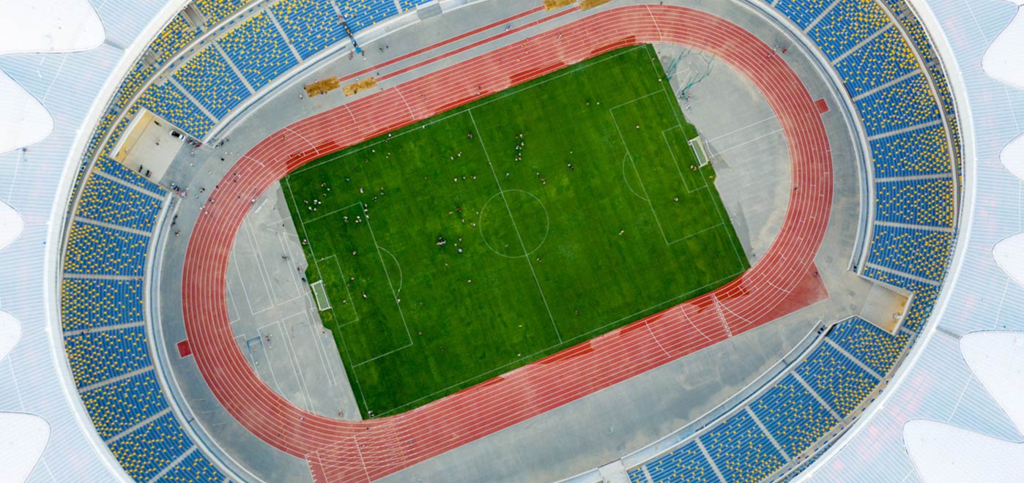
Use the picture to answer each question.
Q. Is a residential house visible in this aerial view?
No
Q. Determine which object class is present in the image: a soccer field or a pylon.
soccer field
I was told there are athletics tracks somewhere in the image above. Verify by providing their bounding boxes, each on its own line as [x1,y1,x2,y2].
[176,5,834,483]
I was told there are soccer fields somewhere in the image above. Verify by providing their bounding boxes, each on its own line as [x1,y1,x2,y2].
[279,43,752,421]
